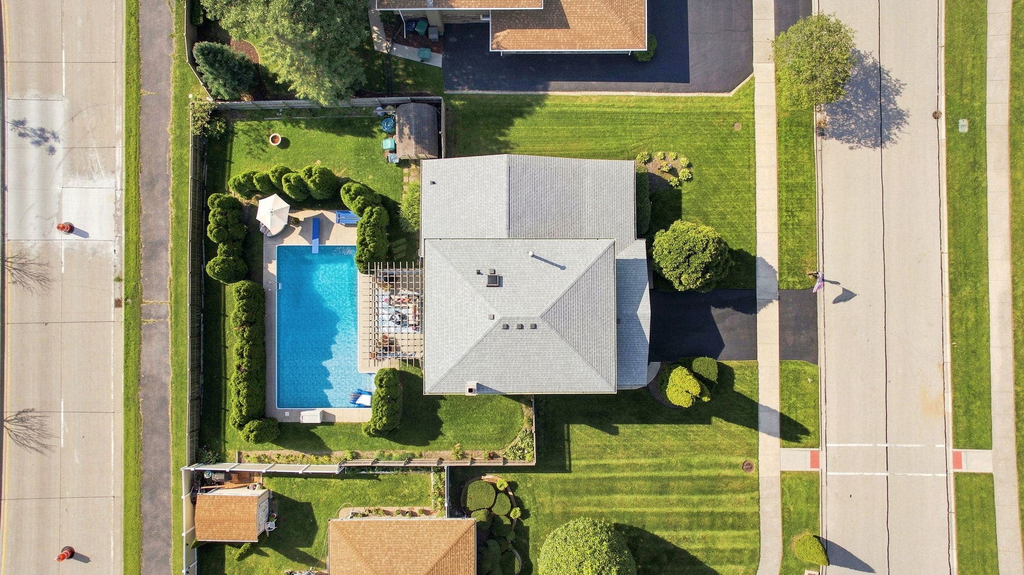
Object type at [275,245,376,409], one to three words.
swimming pool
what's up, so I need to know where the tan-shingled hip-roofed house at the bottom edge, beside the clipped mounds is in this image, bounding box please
[327,515,477,575]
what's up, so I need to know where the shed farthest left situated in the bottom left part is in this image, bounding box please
[192,488,269,543]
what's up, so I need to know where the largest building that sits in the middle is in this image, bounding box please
[420,154,653,397]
